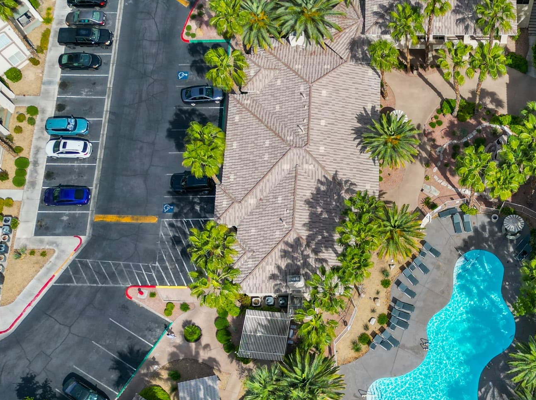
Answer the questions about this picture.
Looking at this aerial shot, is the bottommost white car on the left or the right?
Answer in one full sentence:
You can find the bottommost white car on the left side of the picture.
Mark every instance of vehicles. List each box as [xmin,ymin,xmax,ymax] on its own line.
[58,373,110,400]
[66,7,108,27]
[54,23,116,47]
[44,135,95,159]
[179,84,225,106]
[56,50,104,72]
[67,0,108,10]
[44,184,93,206]
[172,174,216,194]
[43,115,91,138]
